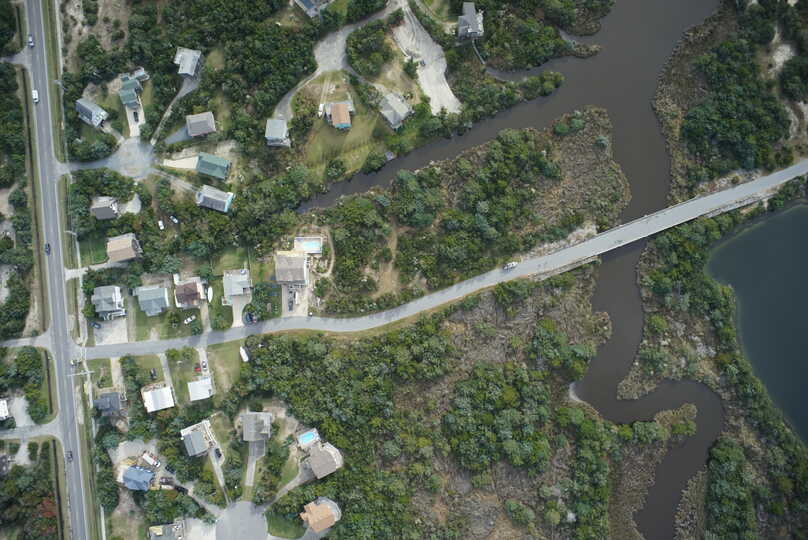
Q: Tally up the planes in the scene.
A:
0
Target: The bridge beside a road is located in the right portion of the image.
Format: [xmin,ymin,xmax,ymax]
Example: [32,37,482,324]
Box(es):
[587,197,703,254]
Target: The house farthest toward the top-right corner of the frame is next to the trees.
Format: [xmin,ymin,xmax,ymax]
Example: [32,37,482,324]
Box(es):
[457,0,485,39]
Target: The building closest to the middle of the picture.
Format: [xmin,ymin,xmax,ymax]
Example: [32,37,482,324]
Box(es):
[275,250,309,287]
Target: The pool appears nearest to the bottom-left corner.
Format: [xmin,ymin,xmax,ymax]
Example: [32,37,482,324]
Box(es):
[296,429,322,451]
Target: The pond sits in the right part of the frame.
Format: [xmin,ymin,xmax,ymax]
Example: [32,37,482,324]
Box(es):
[705,203,808,448]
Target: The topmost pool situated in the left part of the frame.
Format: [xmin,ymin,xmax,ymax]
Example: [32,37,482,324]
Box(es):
[294,236,321,253]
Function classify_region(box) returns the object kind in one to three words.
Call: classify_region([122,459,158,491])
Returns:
house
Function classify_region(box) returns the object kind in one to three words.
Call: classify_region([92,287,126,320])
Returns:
house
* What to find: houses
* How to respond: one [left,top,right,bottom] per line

[457,0,485,39]
[185,111,218,140]
[221,269,253,305]
[194,184,235,212]
[92,287,126,320]
[298,496,341,531]
[179,420,219,456]
[90,197,122,219]
[122,459,158,491]
[378,92,413,129]
[107,231,144,261]
[188,376,215,399]
[326,100,356,130]
[173,274,205,308]
[301,445,343,479]
[275,250,309,287]
[148,517,187,540]
[74,96,110,126]
[266,119,290,146]
[140,382,177,411]
[118,66,150,111]
[0,455,17,478]
[0,396,14,419]
[196,152,234,178]
[133,284,170,315]
[172,47,204,77]
[242,411,273,441]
